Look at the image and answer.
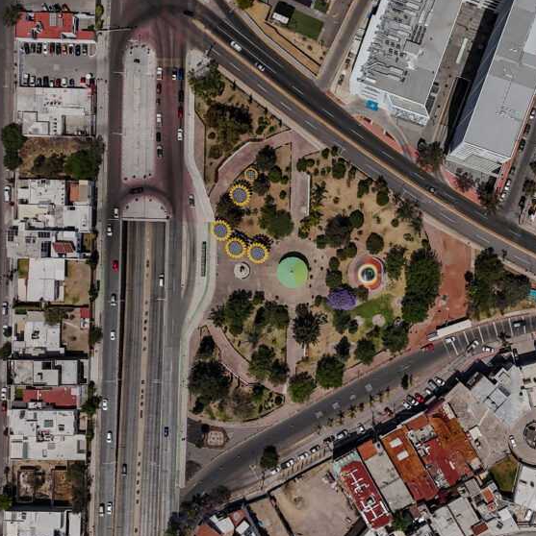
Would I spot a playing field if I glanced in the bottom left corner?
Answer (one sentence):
No, the scene shows no playing field in the bottom left corner.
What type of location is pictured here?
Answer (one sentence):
This image shows a residential area.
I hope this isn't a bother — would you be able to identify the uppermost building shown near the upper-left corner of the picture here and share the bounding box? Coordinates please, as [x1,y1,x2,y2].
[15,12,100,45]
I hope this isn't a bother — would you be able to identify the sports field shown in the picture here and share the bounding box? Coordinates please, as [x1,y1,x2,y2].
[287,11,324,41]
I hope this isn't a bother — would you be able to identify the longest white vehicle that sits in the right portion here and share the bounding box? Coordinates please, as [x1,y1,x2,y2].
[433,319,468,338]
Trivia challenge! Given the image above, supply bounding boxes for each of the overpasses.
[120,194,171,219]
